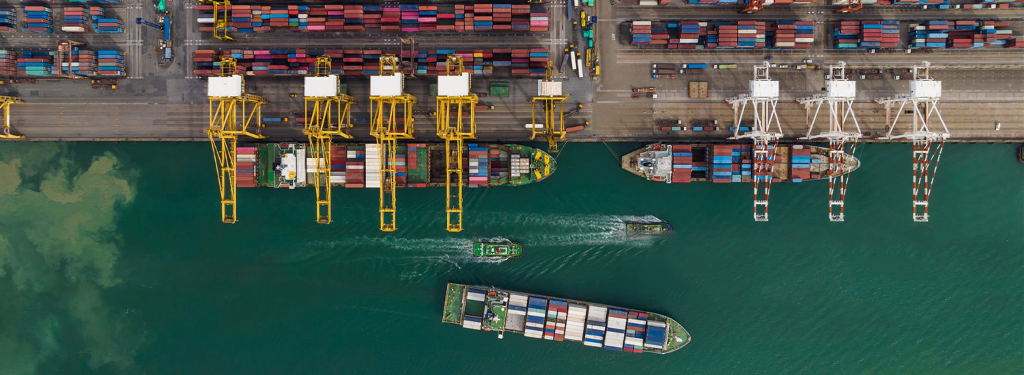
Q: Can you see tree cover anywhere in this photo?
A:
No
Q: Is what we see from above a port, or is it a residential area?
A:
port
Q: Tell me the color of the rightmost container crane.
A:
white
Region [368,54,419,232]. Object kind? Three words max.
container crane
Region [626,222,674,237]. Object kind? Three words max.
boat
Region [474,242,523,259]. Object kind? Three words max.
boat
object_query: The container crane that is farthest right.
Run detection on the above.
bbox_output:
[873,61,946,222]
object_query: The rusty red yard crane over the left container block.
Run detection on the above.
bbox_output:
[57,35,92,79]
